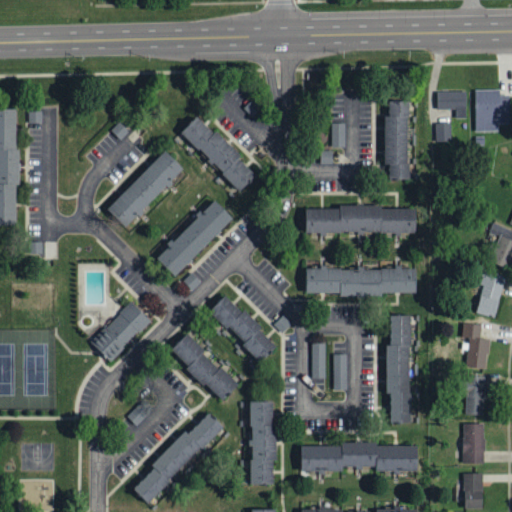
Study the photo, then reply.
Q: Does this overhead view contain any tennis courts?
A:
Yes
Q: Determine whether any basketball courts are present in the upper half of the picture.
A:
No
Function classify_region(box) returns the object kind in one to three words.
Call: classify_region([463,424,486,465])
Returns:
house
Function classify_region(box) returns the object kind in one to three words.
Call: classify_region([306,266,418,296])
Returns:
building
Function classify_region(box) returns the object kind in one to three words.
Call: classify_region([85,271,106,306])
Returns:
swimming pool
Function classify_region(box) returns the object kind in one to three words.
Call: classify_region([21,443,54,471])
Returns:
basketball court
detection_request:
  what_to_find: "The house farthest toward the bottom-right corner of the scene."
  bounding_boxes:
[464,473,484,510]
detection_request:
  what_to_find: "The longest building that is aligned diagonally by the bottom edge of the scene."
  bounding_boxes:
[133,413,224,506]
